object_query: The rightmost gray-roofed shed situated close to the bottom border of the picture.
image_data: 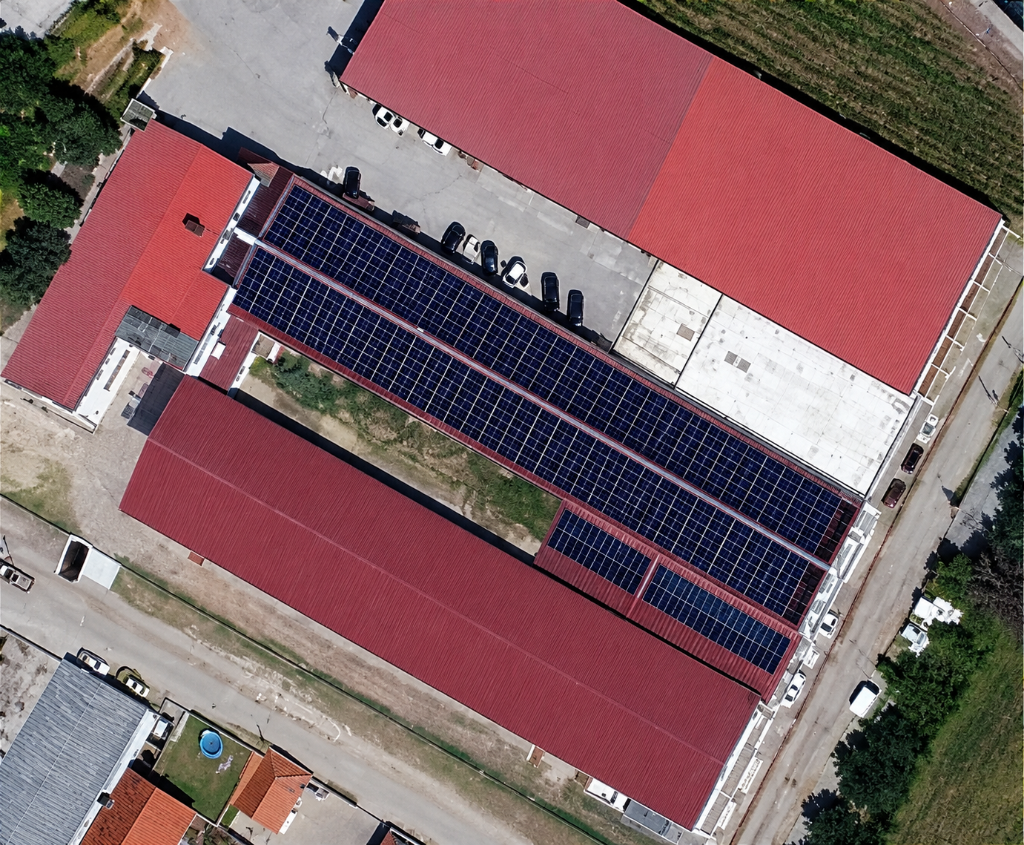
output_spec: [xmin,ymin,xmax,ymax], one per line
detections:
[625,799,684,843]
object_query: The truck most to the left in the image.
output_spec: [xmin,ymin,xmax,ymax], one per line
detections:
[0,563,37,594]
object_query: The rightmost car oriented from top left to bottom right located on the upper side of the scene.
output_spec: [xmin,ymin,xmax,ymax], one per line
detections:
[415,128,454,158]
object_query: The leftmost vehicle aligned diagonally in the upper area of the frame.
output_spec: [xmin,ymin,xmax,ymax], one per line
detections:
[372,106,411,136]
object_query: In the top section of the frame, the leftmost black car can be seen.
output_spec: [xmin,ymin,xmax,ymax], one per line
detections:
[343,166,361,200]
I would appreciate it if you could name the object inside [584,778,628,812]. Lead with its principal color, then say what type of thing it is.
white van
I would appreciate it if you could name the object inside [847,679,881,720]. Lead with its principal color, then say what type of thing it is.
white van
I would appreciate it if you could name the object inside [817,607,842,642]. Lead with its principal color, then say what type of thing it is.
white car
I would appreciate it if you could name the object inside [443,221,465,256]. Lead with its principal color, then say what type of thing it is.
black car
